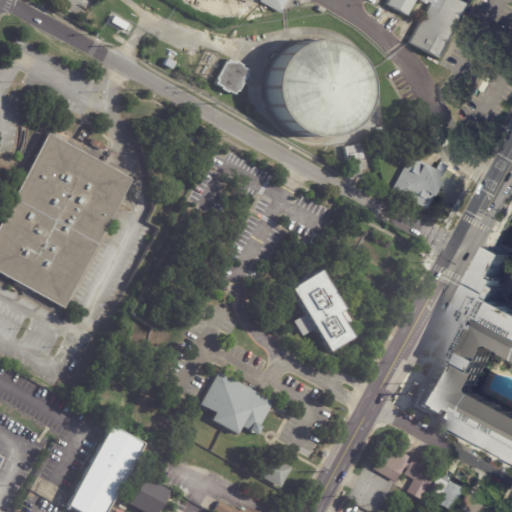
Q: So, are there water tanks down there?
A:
Yes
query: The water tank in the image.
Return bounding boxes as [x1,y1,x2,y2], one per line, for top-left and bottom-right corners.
[266,38,381,136]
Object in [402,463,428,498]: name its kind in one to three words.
house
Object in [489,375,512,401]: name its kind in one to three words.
swimming pool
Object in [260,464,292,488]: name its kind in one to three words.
house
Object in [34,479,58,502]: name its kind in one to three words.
building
